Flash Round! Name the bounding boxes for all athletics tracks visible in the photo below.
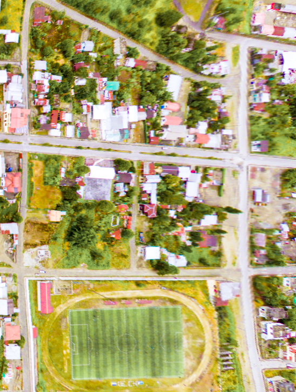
[41,290,213,392]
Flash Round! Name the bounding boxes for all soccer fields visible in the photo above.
[69,306,187,380]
